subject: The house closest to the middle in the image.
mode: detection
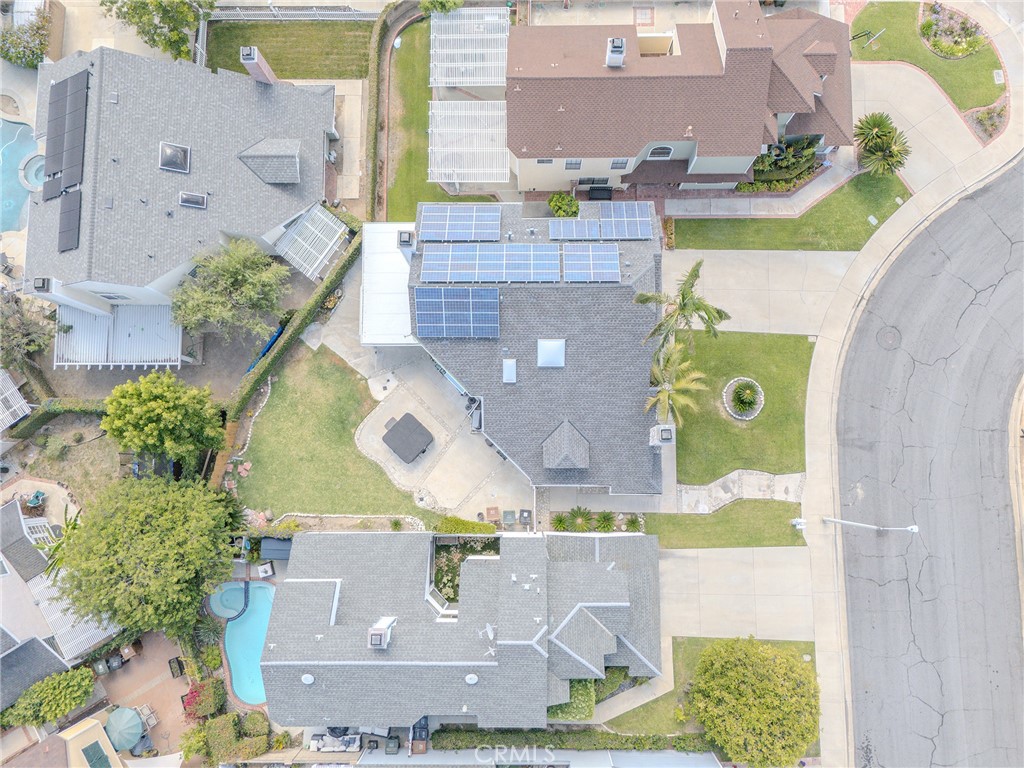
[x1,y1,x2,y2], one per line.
[360,202,671,495]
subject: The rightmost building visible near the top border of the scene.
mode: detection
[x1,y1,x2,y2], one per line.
[506,0,856,197]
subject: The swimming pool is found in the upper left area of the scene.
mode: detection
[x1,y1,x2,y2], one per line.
[0,118,45,235]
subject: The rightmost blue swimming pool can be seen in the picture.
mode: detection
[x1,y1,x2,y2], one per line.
[209,576,277,708]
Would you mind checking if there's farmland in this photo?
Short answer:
No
